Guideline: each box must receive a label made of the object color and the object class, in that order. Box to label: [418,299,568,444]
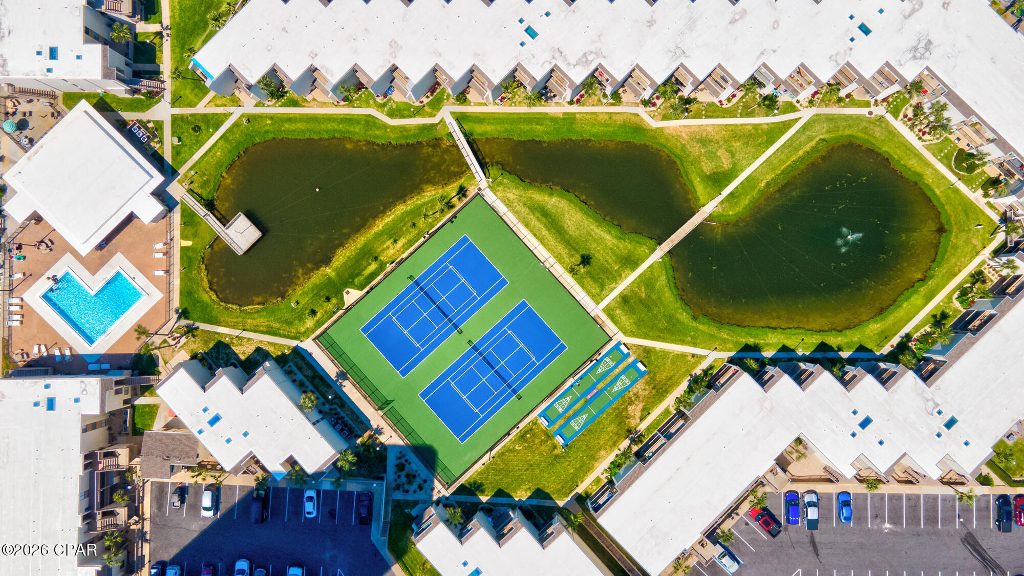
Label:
blue tennis court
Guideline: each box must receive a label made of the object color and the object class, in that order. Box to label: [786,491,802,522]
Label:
blue car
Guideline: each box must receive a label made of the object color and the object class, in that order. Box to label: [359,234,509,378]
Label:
blue tennis court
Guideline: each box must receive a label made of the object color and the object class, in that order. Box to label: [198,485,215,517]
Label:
white car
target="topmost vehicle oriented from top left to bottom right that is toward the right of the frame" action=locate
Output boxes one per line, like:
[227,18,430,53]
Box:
[752,507,784,538]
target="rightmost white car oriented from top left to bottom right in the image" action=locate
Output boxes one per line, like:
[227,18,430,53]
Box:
[716,545,739,572]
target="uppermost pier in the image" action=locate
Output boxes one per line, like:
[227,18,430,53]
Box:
[178,191,263,255]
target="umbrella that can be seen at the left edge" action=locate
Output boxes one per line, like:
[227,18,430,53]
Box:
[2,118,20,134]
